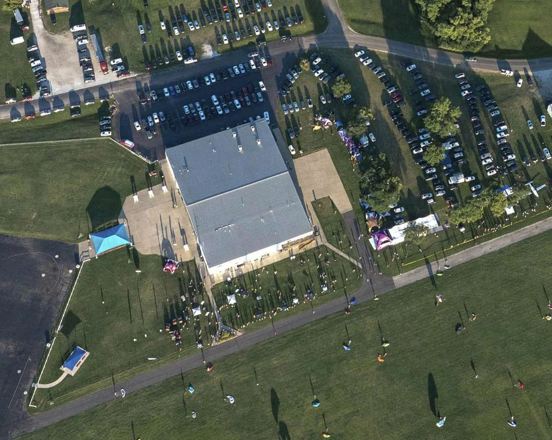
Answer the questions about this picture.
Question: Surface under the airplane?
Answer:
grass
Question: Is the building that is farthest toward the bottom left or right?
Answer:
left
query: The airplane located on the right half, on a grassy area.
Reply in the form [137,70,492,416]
[525,178,547,199]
